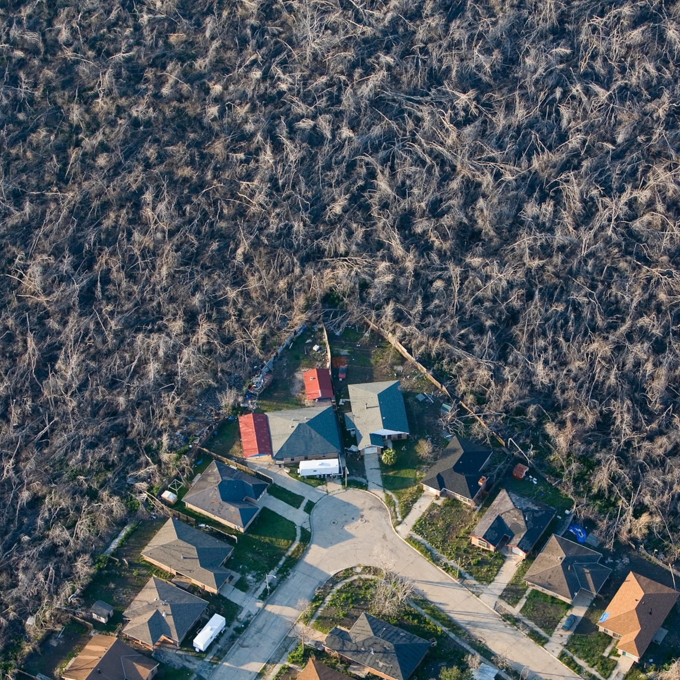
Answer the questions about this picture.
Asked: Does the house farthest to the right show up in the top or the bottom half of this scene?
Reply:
bottom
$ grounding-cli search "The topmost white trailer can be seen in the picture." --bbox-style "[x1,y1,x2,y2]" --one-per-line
[296,459,339,479]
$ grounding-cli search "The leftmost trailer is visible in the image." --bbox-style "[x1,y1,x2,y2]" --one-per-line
[193,615,225,652]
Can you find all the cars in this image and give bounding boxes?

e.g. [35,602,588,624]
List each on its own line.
[338,364,347,379]
[561,613,579,632]
[305,637,325,651]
